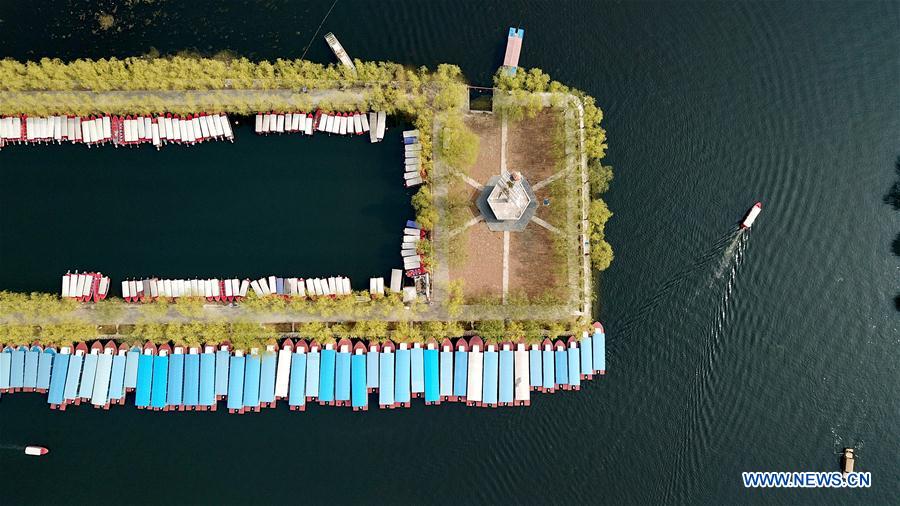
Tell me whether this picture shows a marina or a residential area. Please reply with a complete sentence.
This image shows a marina.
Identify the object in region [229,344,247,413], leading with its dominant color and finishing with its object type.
blue boat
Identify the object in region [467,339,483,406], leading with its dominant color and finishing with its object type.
white boat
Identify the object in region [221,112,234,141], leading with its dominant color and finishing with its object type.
white boat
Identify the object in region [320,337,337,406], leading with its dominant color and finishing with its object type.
blue boat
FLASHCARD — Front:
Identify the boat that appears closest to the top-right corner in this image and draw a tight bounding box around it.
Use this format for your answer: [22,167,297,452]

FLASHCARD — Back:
[740,204,758,228]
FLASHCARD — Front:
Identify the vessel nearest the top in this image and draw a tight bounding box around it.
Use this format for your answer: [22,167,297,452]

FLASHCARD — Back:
[504,28,523,76]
